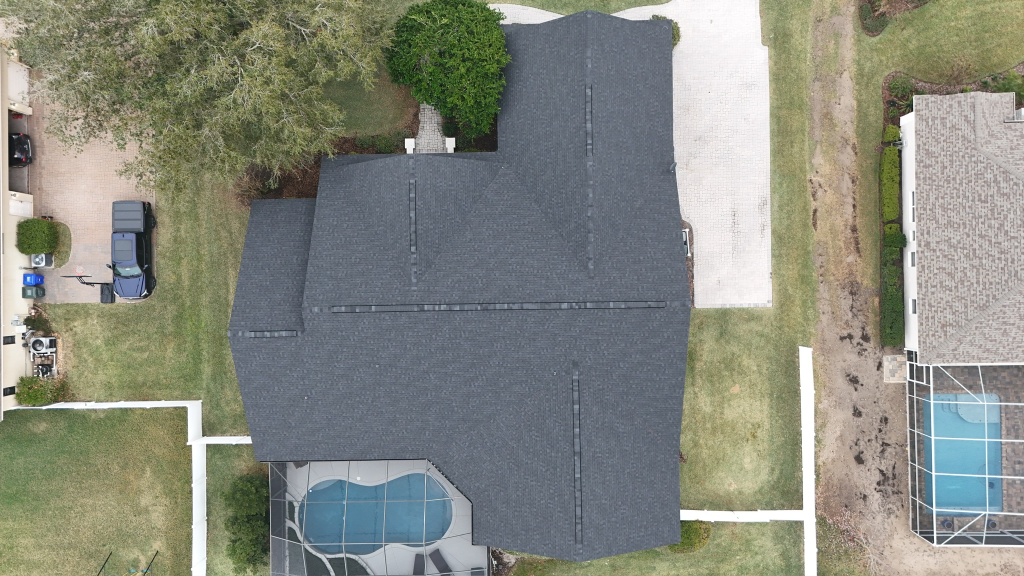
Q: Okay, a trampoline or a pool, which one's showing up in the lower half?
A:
pool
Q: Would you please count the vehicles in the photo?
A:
2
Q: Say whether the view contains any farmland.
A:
No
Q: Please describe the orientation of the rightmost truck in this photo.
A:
up and down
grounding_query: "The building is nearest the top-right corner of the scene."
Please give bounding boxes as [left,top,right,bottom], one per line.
[900,91,1024,367]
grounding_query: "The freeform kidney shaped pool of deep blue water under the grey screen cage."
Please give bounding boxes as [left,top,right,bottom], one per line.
[295,469,457,559]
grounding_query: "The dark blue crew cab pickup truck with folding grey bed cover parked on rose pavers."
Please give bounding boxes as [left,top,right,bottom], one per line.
[108,200,158,299]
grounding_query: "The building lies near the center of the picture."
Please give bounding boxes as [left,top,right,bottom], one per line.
[229,11,691,562]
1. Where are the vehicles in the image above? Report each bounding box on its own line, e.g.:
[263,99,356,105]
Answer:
[8,134,35,168]
[108,200,158,299]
